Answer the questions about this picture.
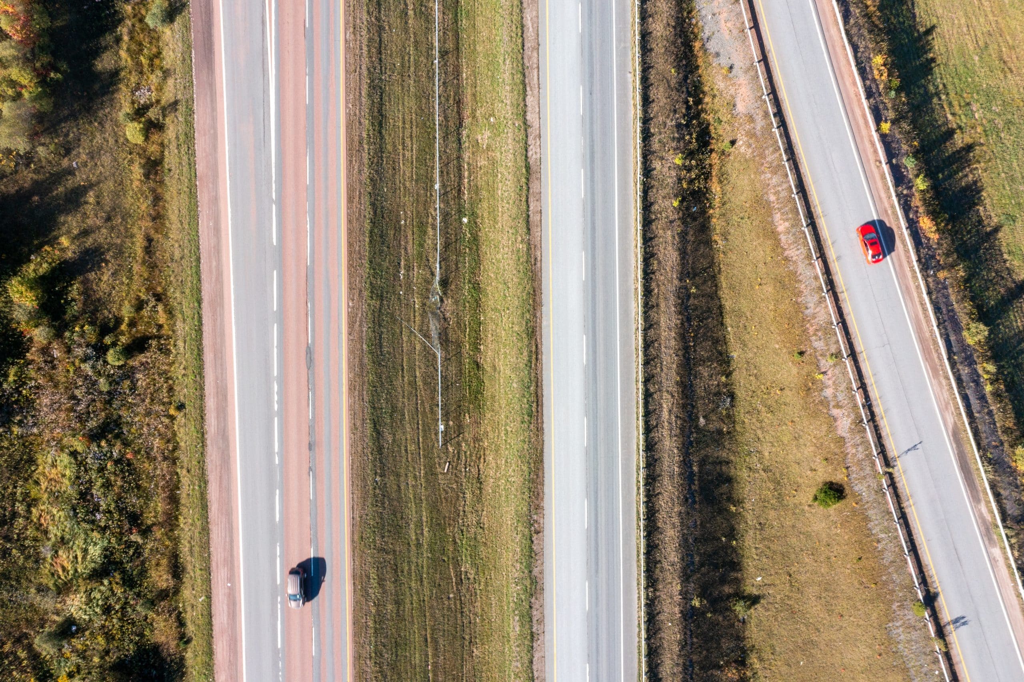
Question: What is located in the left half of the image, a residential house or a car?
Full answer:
The feature located in the left half of the image is a car.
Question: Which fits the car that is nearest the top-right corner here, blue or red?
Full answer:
In this view, the car that is nearest the top-right corner is red.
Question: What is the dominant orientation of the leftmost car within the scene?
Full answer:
The leftmost car is laid out from top to bottom.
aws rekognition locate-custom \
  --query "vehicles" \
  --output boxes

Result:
[859,221,887,263]
[284,569,306,611]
